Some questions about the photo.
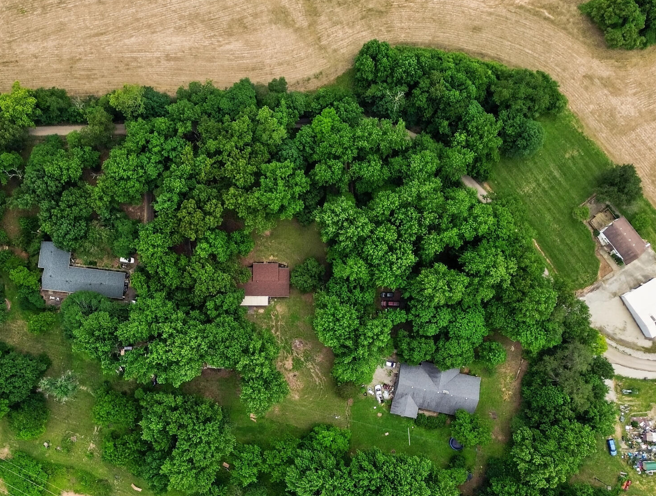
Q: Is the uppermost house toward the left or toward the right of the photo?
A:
right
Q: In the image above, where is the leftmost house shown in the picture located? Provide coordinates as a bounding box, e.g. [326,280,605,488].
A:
[39,241,127,298]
